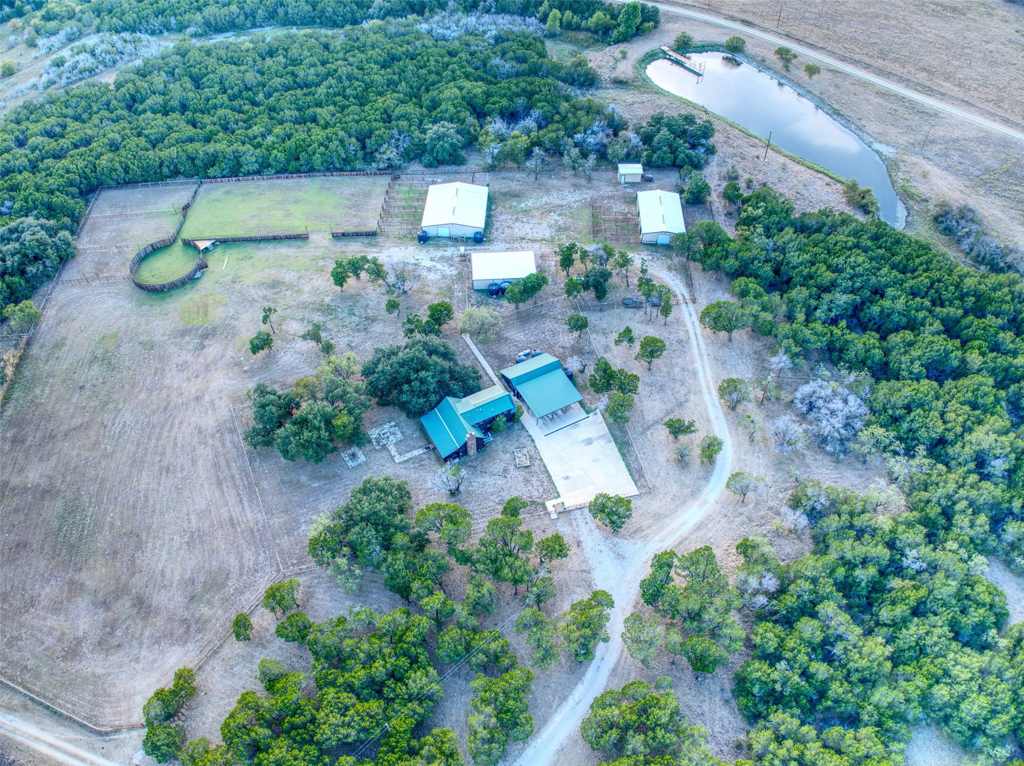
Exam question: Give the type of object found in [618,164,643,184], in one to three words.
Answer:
shed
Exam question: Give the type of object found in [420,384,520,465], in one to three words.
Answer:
house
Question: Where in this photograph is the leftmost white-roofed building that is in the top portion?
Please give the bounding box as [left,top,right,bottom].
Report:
[423,181,487,237]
